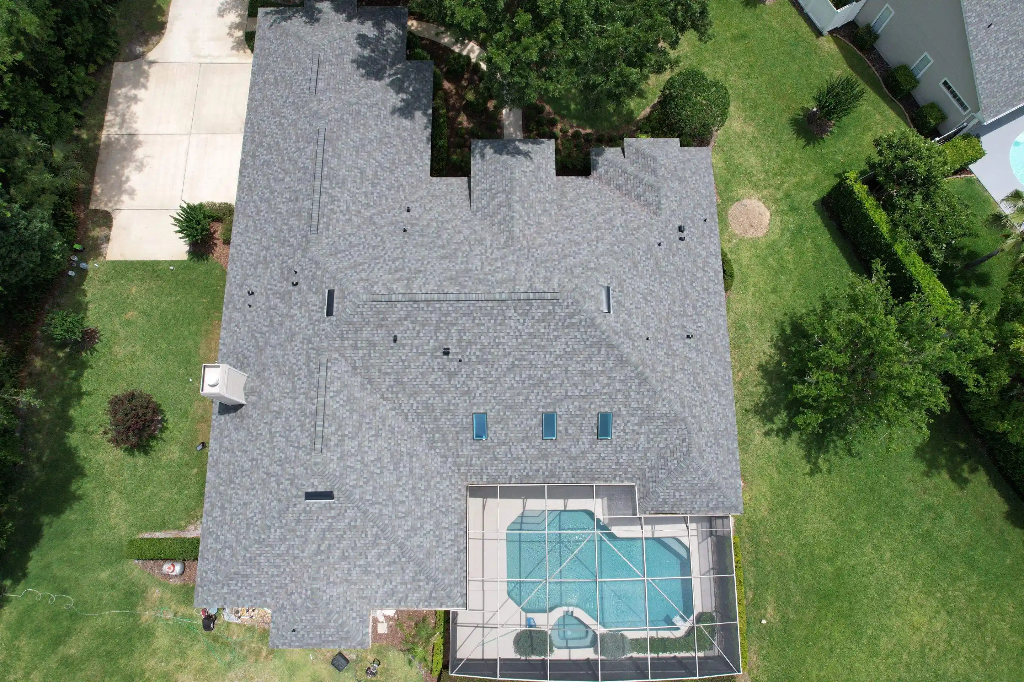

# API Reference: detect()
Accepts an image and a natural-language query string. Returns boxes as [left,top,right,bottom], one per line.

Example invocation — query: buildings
[839,0,1024,134]
[192,0,743,652]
